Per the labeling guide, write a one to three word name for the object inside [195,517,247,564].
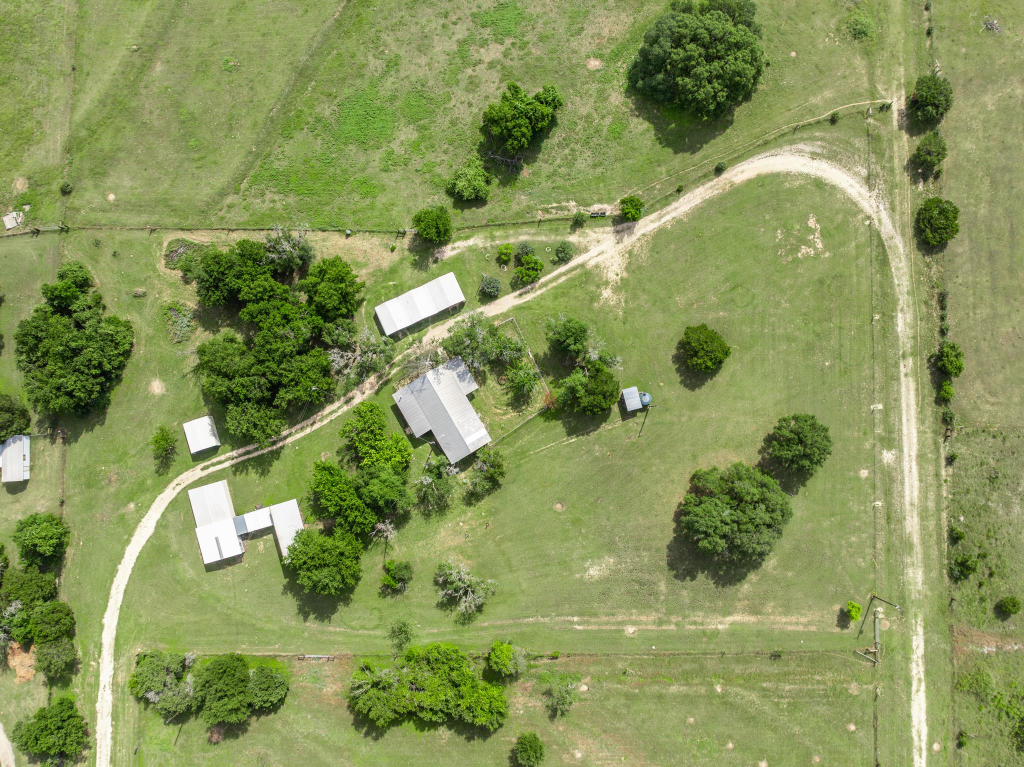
barn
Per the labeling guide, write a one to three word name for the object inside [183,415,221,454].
shed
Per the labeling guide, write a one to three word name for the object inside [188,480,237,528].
barn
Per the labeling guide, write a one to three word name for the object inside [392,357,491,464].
house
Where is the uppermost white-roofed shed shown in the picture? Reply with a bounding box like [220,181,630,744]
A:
[375,272,465,335]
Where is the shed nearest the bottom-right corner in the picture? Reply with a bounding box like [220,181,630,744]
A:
[622,386,642,411]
